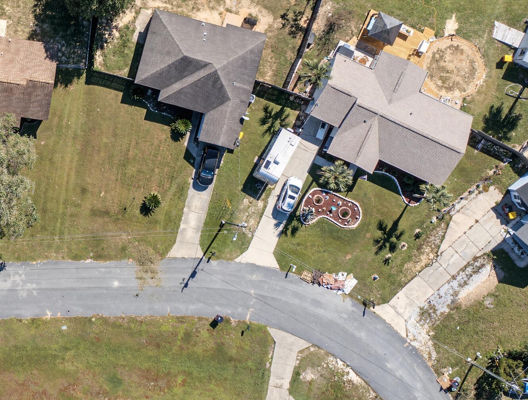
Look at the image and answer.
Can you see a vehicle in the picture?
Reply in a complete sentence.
Yes, I can see a vehicle in this picture.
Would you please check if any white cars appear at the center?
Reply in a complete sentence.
Yes, you'll find a white car at the center.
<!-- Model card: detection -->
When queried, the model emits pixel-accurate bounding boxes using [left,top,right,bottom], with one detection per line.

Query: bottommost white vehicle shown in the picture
[278,176,304,216]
